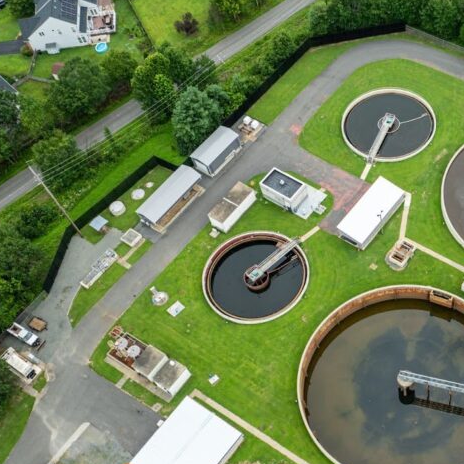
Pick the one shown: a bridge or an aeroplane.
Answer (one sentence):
I can see a bridge in this picture.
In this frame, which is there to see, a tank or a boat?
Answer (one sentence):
Visible in the photo is a tank.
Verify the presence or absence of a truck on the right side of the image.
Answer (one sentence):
No, I can find no truck on the right side of the image.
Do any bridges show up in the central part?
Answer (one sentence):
Yes, you'll find a bridge in the central part.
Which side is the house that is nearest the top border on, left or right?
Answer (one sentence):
The house that is nearest the top border is on the left side of the image.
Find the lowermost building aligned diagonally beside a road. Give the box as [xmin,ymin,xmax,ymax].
[107,330,190,402]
